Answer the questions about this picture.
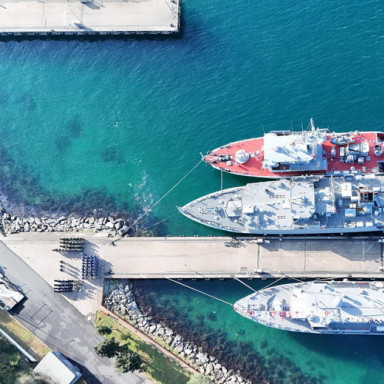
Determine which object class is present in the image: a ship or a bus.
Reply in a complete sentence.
The image shows a ship.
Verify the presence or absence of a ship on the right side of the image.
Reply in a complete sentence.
Yes, there is a ship on the right side of the image.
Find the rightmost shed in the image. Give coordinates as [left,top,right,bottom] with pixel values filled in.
[34,351,82,384]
